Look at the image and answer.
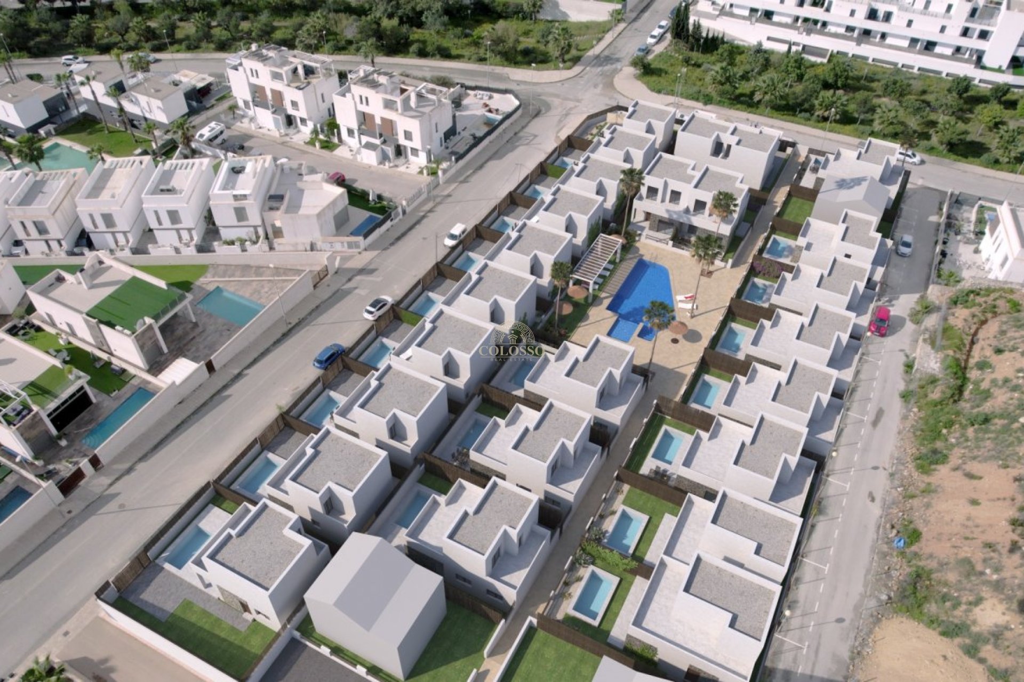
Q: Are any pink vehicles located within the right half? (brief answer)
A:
Yes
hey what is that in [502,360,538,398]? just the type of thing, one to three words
swimming pool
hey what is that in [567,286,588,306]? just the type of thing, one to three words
umbrella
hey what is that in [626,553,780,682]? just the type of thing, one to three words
house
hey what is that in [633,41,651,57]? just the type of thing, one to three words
car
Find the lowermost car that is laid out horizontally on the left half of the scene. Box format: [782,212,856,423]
[321,168,353,184]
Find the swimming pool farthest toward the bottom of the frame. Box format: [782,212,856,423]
[566,565,620,626]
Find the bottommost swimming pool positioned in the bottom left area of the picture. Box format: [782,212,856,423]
[165,527,217,581]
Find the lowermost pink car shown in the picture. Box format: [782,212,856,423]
[871,305,890,335]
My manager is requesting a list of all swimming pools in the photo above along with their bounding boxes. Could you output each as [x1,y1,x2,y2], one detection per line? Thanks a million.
[383,498,427,550]
[524,186,551,201]
[502,360,538,398]
[447,422,487,467]
[635,324,660,342]
[300,391,349,430]
[192,285,267,326]
[602,255,679,331]
[688,375,726,413]
[234,453,287,499]
[350,214,382,237]
[165,527,217,581]
[490,216,520,235]
[739,278,771,304]
[644,433,685,476]
[409,291,446,318]
[358,337,400,370]
[715,323,750,355]
[554,157,578,170]
[604,316,642,344]
[77,386,158,450]
[600,504,650,559]
[0,478,37,525]
[453,251,486,273]
[762,240,789,259]
[566,565,620,626]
